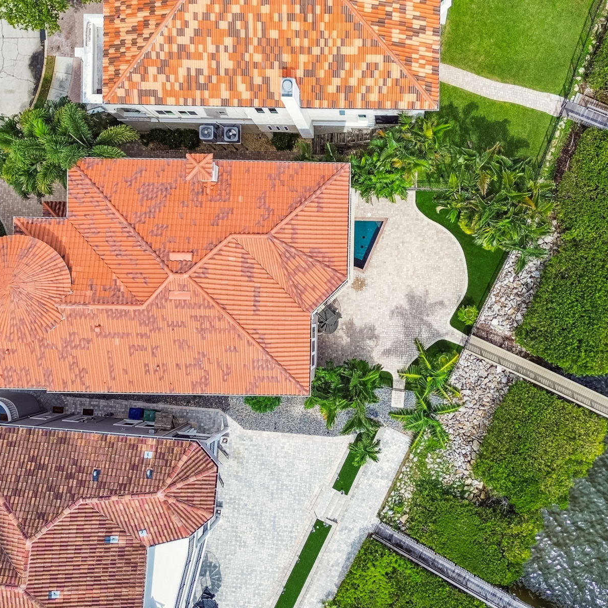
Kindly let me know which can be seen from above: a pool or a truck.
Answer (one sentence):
The image shows a pool.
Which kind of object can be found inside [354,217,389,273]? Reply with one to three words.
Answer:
swimming pool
